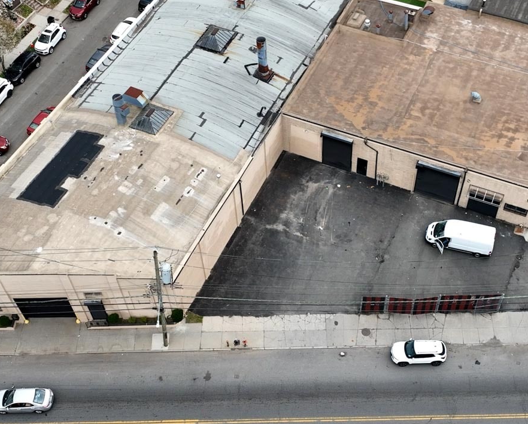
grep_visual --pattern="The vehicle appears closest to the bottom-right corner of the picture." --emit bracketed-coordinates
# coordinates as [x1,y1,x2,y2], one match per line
[388,338,449,369]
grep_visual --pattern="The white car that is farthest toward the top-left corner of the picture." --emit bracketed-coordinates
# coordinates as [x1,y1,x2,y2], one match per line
[35,23,69,57]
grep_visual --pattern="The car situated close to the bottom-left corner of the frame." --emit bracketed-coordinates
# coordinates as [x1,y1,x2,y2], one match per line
[0,386,57,417]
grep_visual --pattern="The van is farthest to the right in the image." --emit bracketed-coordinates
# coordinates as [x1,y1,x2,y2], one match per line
[425,224,496,263]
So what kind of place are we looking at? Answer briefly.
industrial area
